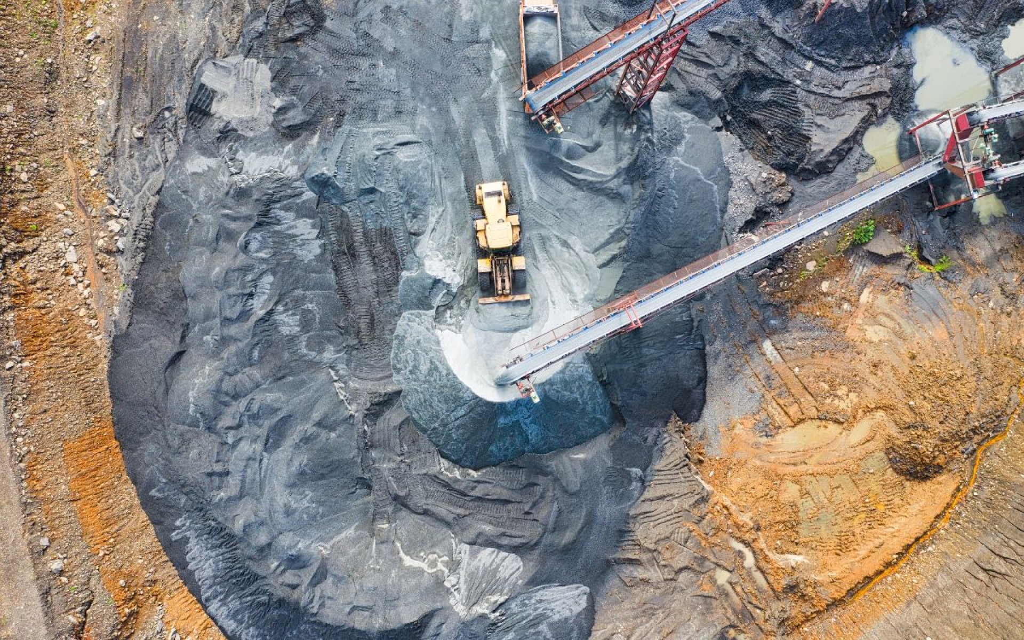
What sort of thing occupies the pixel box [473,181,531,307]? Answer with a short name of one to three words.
work vehicle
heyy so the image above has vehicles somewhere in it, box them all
[516,0,563,104]
[473,181,531,307]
